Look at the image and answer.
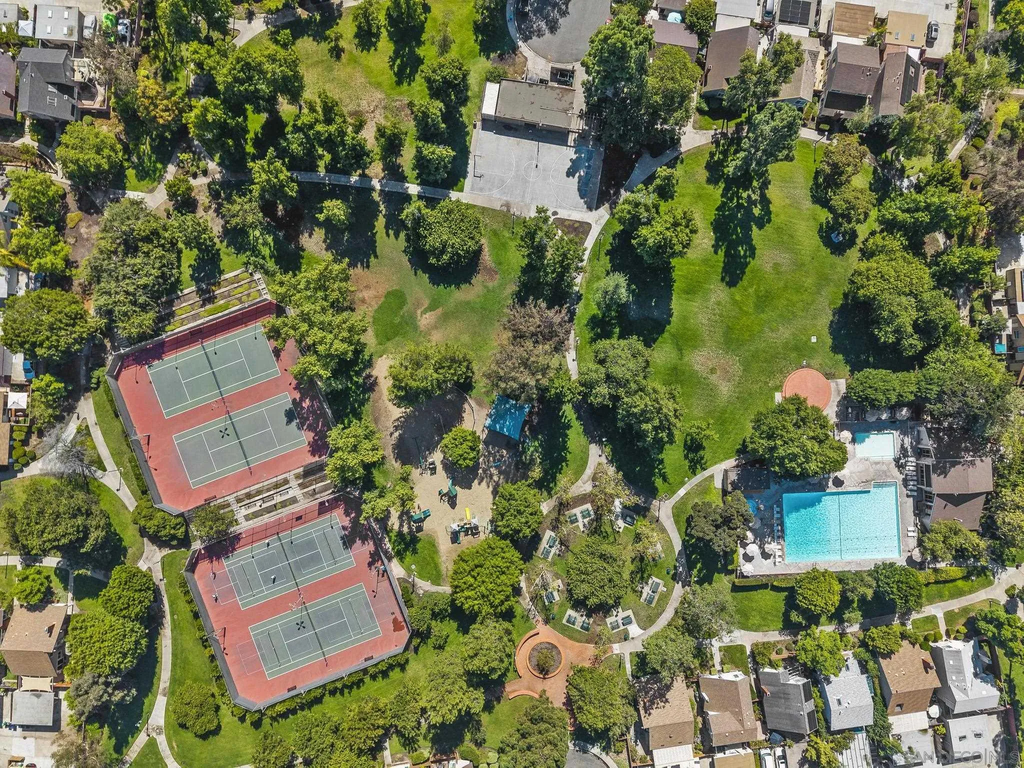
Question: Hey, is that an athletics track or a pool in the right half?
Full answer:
Looking in the right half, you will find a pool.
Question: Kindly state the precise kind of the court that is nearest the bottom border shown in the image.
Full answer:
What you see as the court that is nearest the bottom border is a tennis court.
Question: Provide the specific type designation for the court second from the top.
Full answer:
I'd identify the court second from the top as a tennis court.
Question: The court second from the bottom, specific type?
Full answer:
It turns out the court second from the bottom is a tennis court.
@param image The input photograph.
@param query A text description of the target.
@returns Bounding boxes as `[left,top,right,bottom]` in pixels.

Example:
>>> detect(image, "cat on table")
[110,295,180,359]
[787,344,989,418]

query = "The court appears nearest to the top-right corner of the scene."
[469,118,605,210]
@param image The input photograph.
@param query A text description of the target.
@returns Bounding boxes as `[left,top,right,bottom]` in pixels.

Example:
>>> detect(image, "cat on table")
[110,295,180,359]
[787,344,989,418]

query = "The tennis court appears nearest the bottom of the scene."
[214,565,409,706]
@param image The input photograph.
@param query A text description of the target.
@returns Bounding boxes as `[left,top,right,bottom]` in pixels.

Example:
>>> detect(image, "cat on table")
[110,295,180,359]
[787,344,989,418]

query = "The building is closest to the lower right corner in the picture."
[939,710,992,760]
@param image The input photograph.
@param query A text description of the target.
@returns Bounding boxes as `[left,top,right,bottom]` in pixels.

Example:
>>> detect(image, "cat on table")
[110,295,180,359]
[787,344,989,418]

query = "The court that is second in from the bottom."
[194,496,384,630]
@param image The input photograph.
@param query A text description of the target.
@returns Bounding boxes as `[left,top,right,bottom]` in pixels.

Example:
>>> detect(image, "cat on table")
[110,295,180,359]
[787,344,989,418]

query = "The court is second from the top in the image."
[116,301,302,438]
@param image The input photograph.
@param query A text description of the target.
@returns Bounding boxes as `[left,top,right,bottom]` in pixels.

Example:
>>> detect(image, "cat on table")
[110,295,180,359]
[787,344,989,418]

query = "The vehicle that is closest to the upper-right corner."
[927,17,941,41]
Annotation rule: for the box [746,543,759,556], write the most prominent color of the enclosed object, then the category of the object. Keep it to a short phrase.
white umbrella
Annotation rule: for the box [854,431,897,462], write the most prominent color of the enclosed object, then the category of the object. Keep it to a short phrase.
white swimming pool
